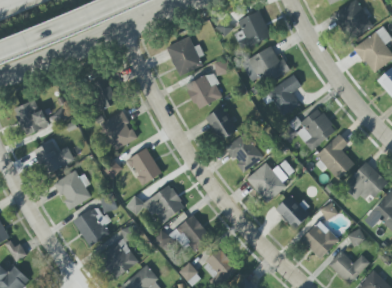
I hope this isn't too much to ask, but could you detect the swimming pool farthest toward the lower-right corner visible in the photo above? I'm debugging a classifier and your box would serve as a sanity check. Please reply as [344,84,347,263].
[327,214,352,235]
